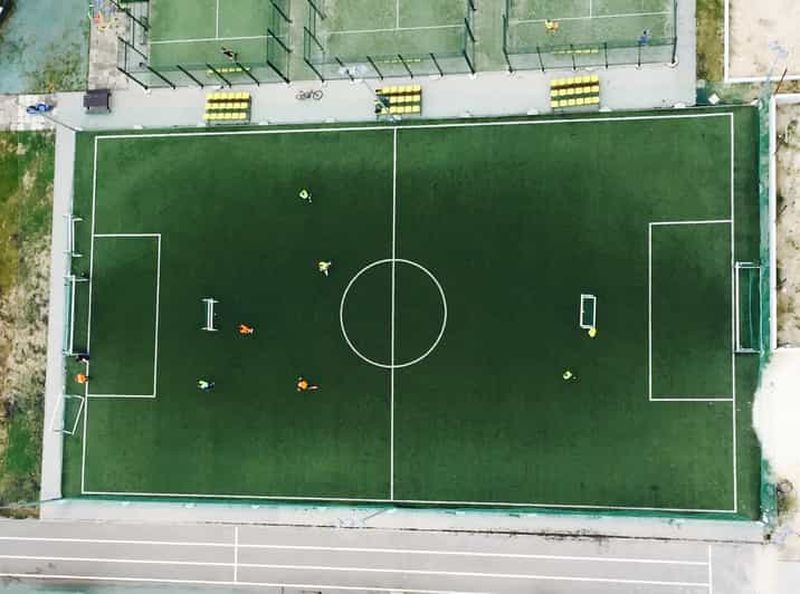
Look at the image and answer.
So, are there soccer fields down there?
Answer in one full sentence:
Yes, looking at the shot, I can spot a soccer field.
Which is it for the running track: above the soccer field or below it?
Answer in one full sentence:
You can see the running track below the soccer field in the frame.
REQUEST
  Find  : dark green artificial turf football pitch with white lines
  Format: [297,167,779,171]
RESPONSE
[62,106,762,521]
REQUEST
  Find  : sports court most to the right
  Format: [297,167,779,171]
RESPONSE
[511,0,673,71]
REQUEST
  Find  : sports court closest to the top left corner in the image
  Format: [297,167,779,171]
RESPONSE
[0,0,91,95]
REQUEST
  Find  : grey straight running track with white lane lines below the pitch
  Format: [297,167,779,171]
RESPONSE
[0,517,769,594]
